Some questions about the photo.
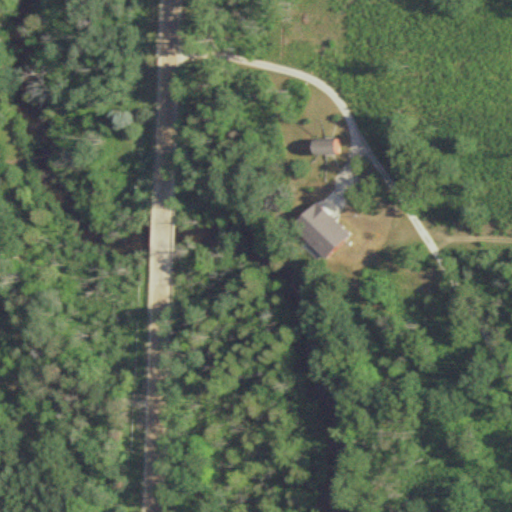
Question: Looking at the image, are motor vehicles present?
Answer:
No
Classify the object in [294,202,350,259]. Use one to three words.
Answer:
house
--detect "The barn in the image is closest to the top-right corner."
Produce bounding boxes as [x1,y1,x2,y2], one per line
[311,138,342,156]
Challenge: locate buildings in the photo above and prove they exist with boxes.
[311,138,342,156]
[294,202,350,259]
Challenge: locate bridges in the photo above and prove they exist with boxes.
[148,222,176,284]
